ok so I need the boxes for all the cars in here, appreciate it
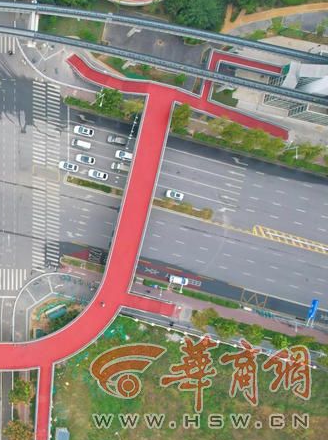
[167,275,189,286]
[87,169,109,181]
[75,154,96,165]
[111,160,129,172]
[107,134,128,145]
[59,161,80,173]
[116,149,132,161]
[73,125,94,137]
[72,138,93,149]
[164,189,185,200]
